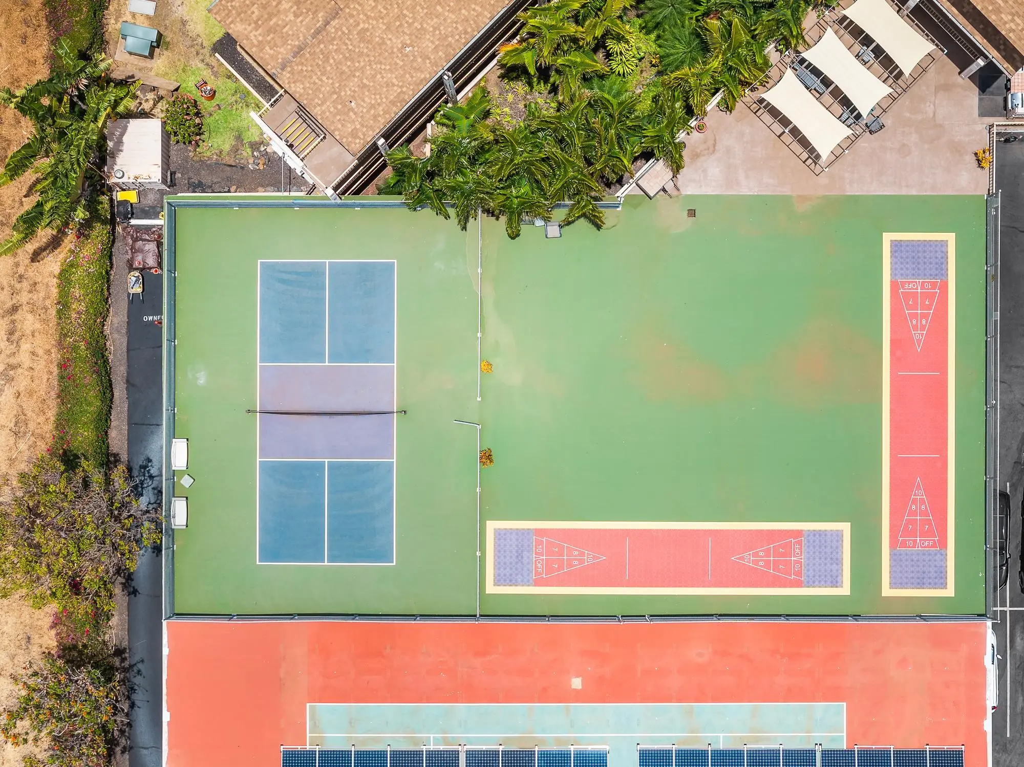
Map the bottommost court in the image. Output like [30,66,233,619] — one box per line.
[164,619,992,767]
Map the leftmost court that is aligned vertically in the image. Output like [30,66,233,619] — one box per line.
[257,260,397,565]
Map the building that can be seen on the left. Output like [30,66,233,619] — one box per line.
[214,0,555,195]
